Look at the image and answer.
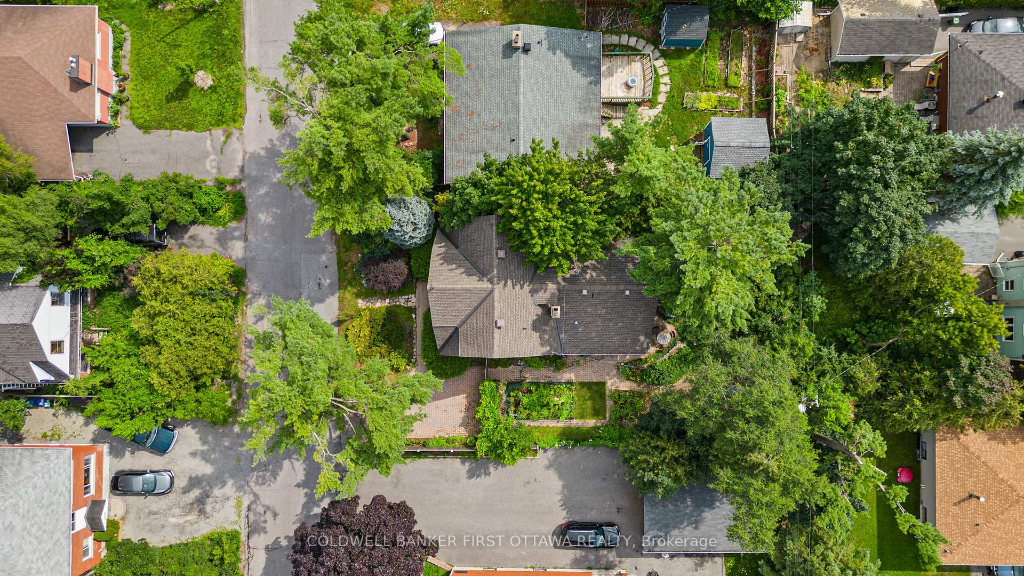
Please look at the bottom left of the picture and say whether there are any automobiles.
Yes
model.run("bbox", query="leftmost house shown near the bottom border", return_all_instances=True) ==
[0,441,121,576]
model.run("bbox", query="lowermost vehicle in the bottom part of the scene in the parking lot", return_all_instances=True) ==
[562,519,620,552]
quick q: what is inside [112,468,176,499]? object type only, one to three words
car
